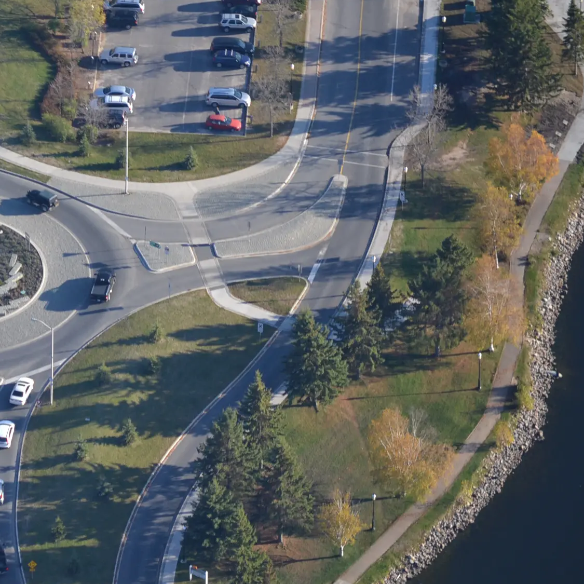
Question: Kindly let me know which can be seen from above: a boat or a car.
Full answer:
The image shows a car.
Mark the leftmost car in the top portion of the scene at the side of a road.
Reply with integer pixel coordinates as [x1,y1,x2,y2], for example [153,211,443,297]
[22,185,62,209]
